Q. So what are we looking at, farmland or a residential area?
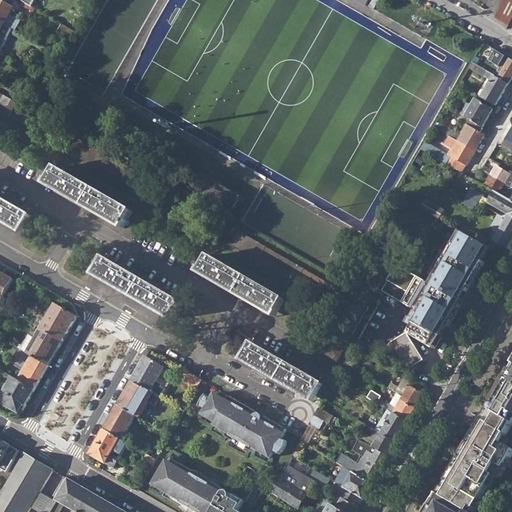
residential area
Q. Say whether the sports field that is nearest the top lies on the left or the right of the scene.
left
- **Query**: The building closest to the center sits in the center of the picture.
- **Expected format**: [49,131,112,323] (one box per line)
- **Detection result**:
[190,250,284,318]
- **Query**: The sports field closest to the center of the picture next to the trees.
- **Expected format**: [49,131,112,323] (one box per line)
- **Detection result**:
[242,186,346,266]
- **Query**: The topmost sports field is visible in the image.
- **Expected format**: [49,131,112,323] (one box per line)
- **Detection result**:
[66,0,157,96]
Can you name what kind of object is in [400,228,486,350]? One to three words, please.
building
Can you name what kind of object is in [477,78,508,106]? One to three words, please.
house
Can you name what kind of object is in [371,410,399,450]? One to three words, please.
house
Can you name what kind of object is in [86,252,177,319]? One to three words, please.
building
